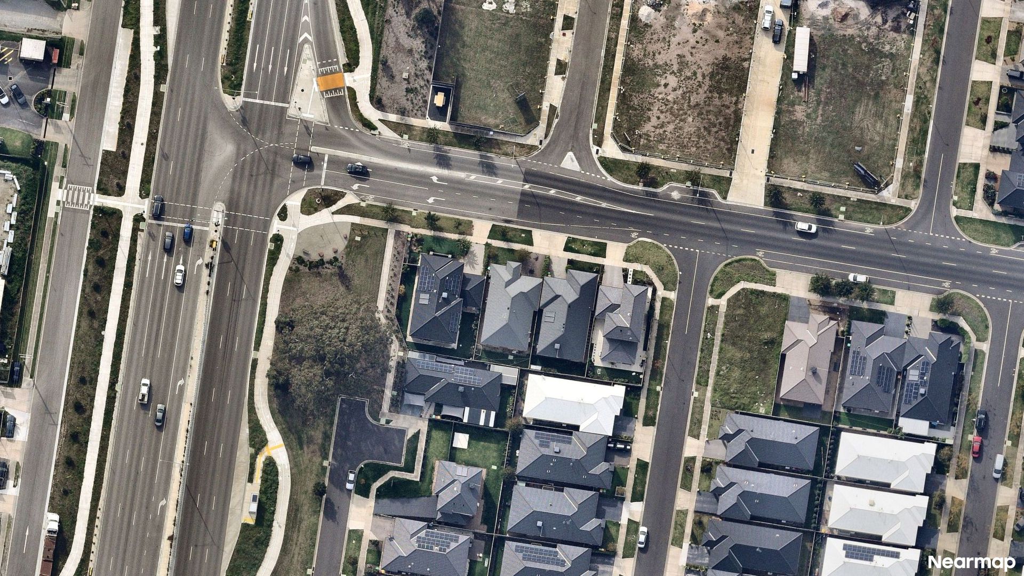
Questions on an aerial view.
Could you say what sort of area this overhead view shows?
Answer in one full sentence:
This looks like a residential area.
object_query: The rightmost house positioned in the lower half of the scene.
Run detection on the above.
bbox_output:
[897,332,961,436]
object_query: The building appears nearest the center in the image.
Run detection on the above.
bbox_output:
[481,260,543,351]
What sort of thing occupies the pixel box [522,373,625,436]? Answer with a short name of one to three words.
house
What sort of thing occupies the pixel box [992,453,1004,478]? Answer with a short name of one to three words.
vehicle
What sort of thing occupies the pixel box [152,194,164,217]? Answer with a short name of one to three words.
vehicle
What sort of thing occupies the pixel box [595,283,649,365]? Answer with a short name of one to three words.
house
